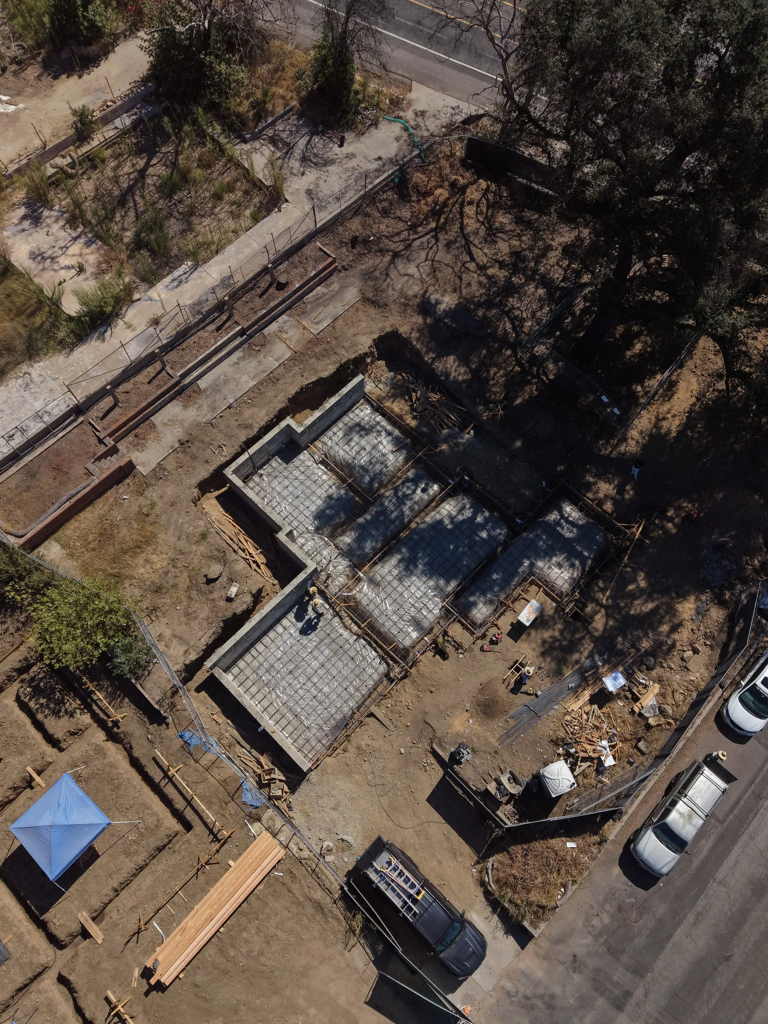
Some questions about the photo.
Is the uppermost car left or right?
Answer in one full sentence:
You can find the uppermost car on the right side of the picture.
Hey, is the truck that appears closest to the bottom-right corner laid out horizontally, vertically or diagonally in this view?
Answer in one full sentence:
I'd say the truck that appears closest to the bottom-right corner is aligned diagonally in the picture.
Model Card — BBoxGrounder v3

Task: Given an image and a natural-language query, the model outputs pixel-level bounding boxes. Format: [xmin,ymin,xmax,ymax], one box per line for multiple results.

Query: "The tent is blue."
[9,765,141,897]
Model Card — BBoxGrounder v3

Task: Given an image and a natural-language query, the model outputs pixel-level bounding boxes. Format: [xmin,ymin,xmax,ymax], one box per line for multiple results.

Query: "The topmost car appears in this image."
[726,659,768,742]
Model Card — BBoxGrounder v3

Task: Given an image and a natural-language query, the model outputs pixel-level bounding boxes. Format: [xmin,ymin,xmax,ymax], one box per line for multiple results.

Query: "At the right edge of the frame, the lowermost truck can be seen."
[627,749,741,875]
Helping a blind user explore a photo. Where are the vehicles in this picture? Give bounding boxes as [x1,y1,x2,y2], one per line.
[627,749,741,875]
[726,659,768,742]
[355,834,492,983]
